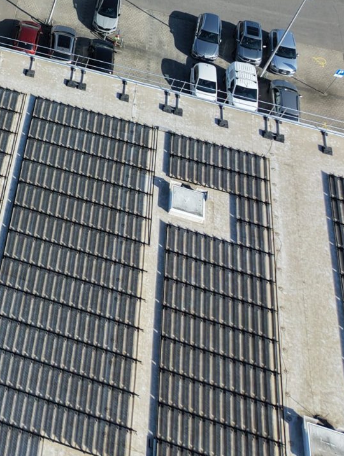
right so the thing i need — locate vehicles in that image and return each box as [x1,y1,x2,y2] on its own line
[266,79,303,123]
[266,32,302,84]
[86,37,118,75]
[188,62,221,101]
[232,24,266,70]
[190,18,223,67]
[12,14,43,55]
[226,62,262,111]
[45,20,78,64]
[92,0,123,38]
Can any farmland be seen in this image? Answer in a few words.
No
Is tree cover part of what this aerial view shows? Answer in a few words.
No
